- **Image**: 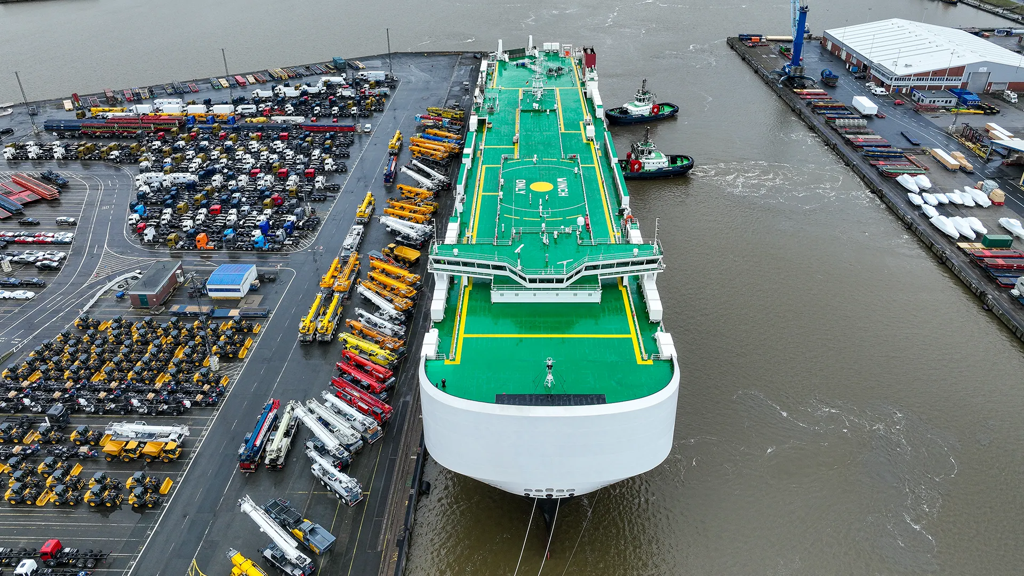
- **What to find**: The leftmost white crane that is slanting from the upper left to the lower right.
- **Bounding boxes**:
[237,498,323,576]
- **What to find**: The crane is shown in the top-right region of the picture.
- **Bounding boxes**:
[762,0,829,86]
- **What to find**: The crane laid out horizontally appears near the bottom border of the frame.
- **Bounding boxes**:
[216,549,279,576]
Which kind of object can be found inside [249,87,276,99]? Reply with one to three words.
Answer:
vehicle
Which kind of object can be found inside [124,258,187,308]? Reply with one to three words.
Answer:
building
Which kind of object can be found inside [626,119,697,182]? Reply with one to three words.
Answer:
boat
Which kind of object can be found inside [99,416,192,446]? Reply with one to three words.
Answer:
crane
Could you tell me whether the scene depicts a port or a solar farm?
port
